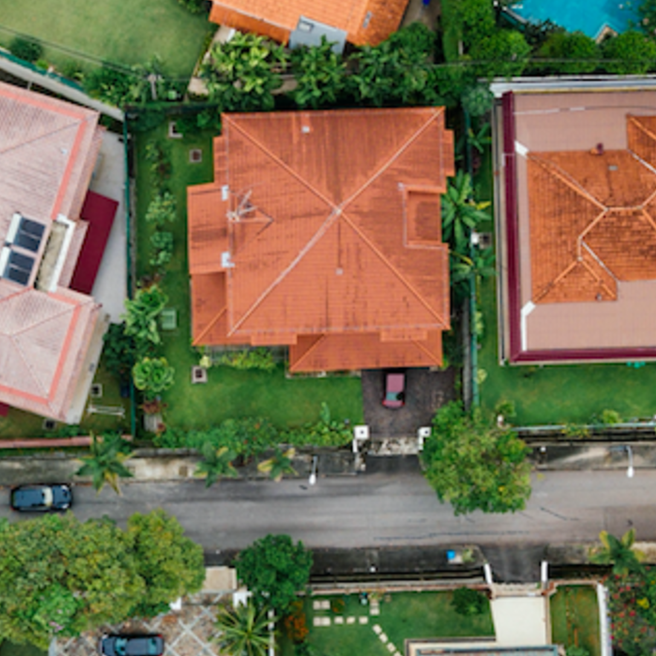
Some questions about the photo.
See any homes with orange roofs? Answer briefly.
Yes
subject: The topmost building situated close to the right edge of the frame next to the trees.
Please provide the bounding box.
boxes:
[479,76,656,368]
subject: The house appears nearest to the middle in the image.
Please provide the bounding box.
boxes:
[187,105,455,372]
